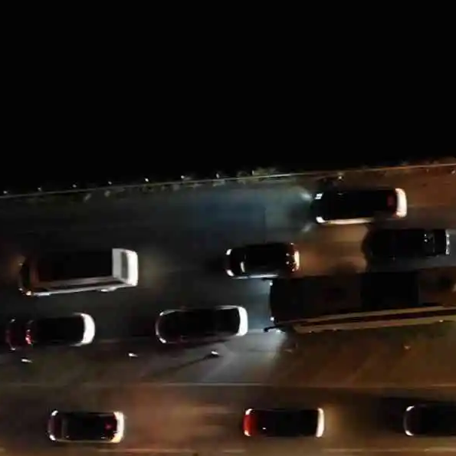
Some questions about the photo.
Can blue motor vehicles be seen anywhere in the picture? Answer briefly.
No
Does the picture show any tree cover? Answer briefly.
No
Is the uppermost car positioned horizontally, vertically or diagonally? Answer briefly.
horizontally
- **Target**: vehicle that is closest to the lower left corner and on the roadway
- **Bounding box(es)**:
[44,406,128,444]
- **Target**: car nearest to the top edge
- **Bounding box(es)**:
[314,182,409,226]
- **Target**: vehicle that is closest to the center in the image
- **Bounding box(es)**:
[223,238,303,279]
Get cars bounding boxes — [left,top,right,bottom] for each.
[223,238,303,279]
[44,406,128,444]
[403,400,456,439]
[365,223,451,262]
[242,402,327,440]
[153,302,250,343]
[314,182,409,226]
[4,309,98,348]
